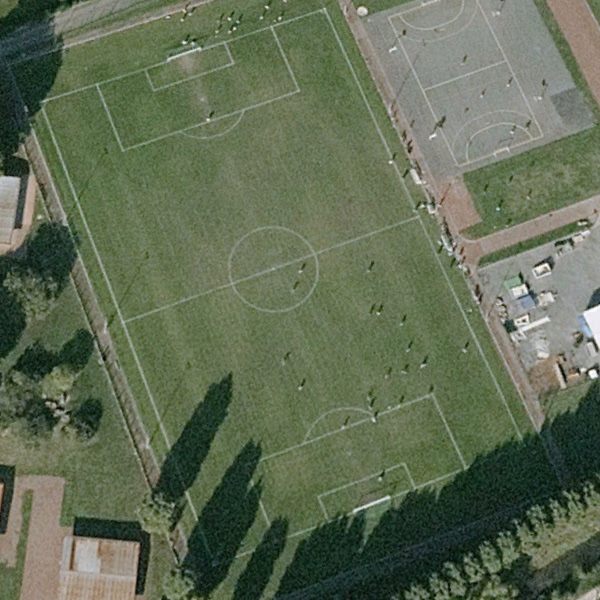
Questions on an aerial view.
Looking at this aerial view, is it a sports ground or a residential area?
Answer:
sports ground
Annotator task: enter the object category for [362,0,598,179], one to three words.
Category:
sports court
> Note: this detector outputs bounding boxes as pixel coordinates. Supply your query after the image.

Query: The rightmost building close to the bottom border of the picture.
[57,538,139,600]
